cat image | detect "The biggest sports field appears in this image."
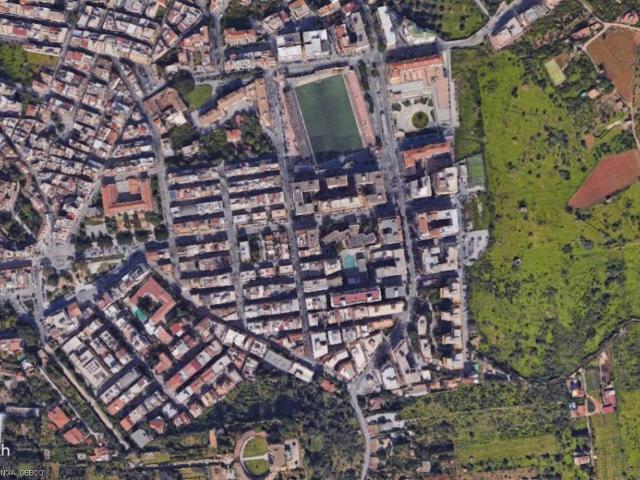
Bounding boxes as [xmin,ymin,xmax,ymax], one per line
[281,65,376,168]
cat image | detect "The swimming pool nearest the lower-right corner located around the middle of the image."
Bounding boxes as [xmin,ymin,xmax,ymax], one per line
[344,254,356,280]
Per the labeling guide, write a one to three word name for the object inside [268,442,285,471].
house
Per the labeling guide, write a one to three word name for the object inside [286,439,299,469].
house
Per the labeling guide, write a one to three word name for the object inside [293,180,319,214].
building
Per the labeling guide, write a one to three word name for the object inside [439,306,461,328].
building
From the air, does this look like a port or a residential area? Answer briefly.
residential area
